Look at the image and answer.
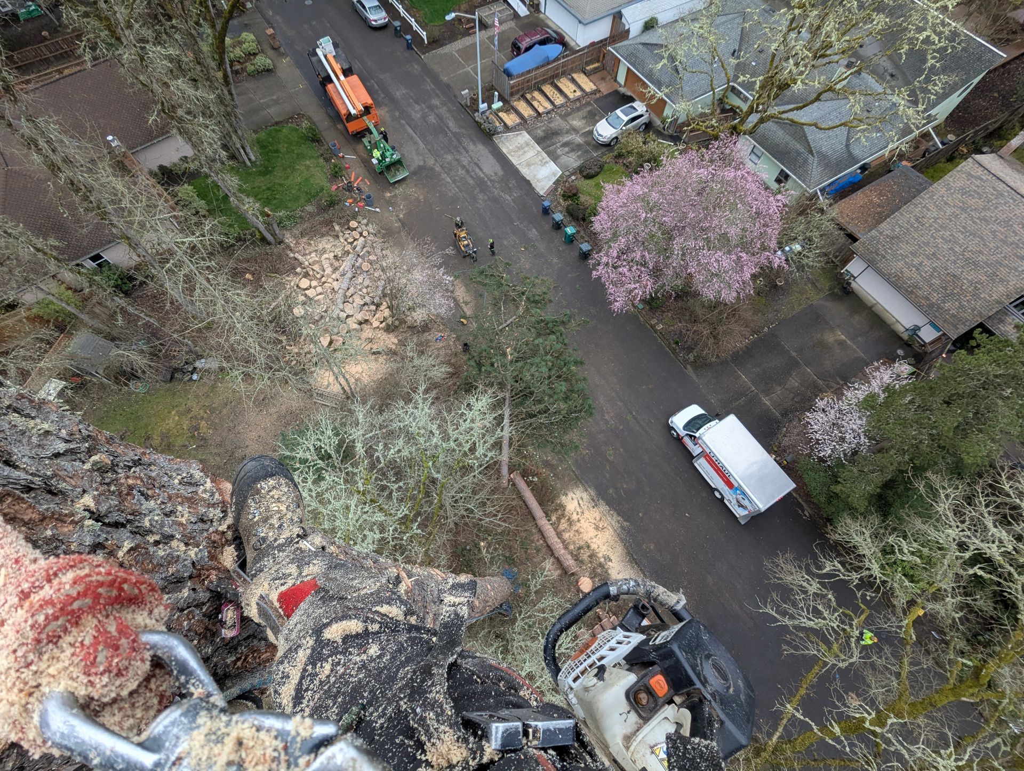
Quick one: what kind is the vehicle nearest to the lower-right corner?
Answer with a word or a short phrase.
truck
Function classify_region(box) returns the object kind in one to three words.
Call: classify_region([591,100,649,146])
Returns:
car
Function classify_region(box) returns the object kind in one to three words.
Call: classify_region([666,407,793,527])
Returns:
truck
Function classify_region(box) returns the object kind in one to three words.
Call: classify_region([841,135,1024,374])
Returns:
house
